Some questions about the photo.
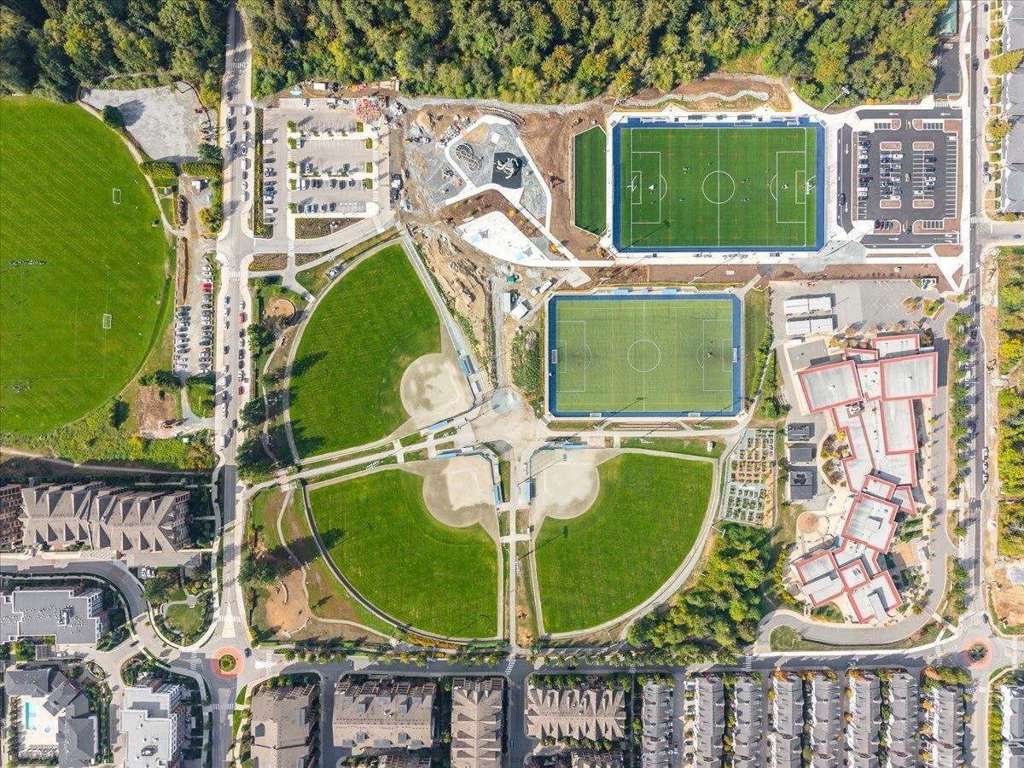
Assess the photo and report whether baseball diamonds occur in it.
Yes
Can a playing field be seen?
Yes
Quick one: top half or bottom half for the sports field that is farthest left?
top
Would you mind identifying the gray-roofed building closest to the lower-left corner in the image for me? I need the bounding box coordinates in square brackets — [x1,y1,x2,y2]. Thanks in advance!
[6,666,99,768]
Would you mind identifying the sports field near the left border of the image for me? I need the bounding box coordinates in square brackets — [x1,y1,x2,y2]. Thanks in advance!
[0,96,169,437]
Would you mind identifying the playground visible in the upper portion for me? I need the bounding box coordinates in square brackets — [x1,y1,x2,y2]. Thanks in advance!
[492,152,522,188]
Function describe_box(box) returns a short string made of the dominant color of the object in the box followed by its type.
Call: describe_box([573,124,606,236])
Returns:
green sports field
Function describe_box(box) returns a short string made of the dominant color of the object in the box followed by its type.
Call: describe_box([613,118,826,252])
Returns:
green soccer field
